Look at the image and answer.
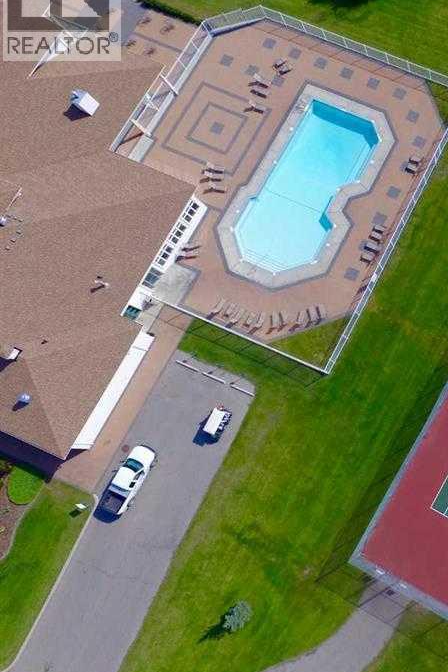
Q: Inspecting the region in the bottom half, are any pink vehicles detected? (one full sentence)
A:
No, I see no pink vehicle in the bottom half.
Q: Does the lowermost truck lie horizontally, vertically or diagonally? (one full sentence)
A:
From this overhead view, the lowermost truck appears to run diagonally.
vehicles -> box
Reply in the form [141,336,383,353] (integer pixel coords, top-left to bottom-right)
[92,444,159,518]
[203,405,235,436]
